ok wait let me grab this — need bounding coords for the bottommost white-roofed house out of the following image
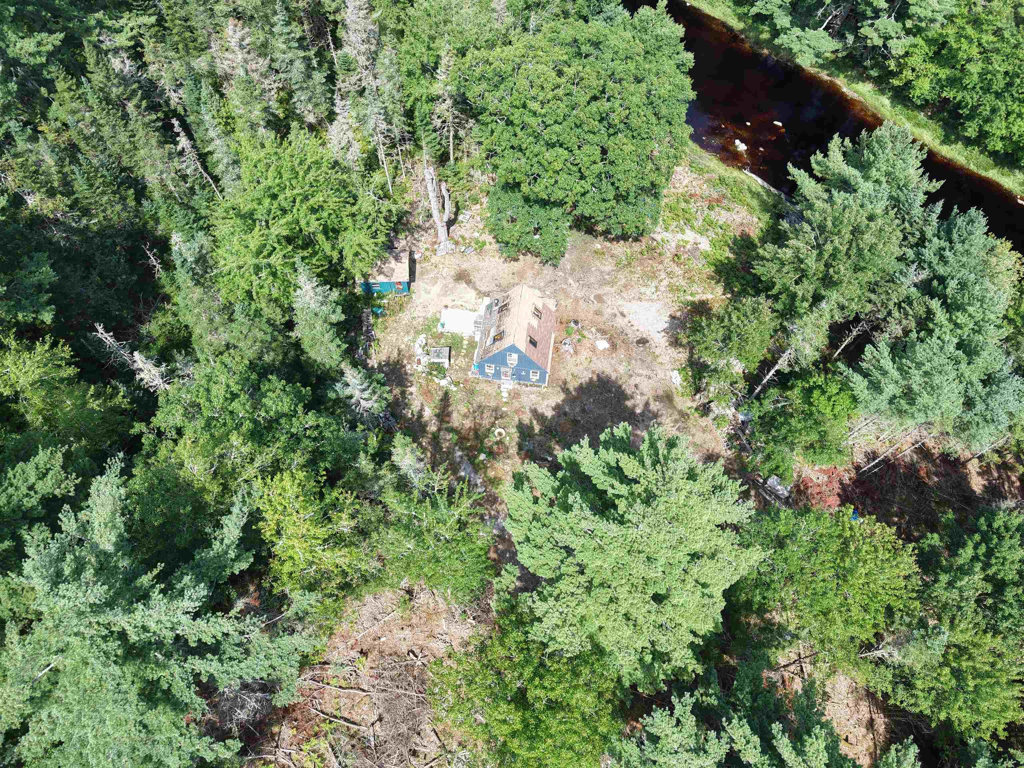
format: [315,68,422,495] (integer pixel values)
[476,280,559,386]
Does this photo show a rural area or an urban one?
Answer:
rural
